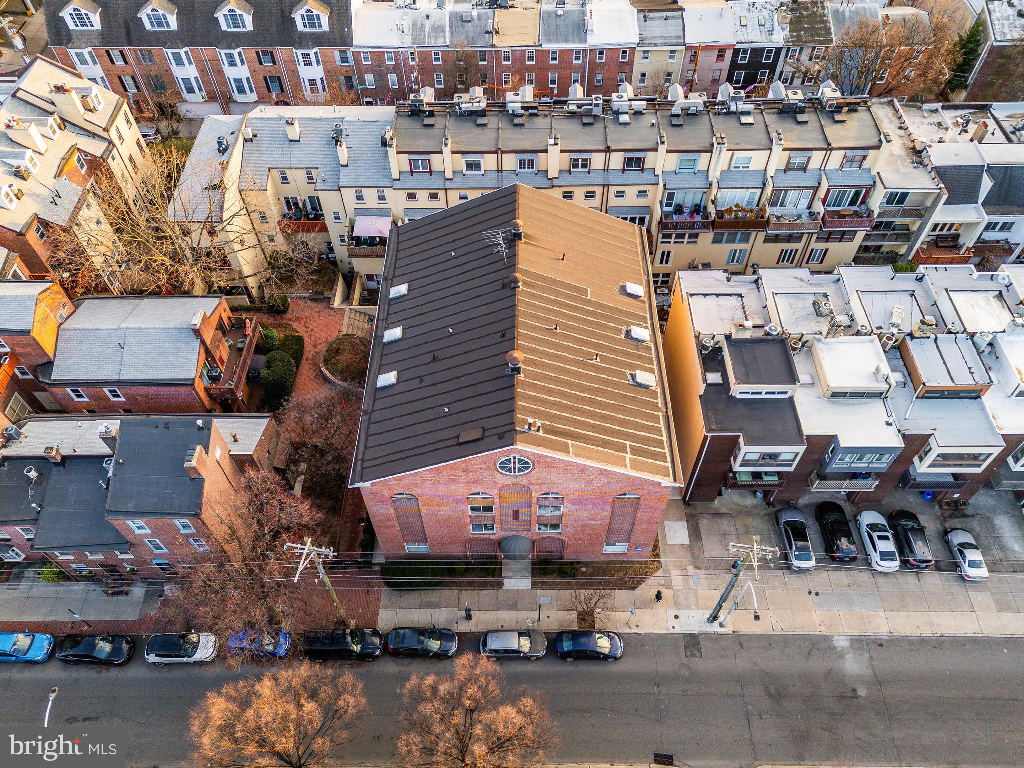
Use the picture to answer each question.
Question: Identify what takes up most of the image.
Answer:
buildings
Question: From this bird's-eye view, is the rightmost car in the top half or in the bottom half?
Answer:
bottom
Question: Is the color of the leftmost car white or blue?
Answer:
blue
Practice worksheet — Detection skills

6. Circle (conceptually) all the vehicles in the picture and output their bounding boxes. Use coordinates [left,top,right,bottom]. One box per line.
[387,628,458,663]
[886,509,935,567]
[50,628,137,663]
[139,627,220,663]
[814,499,858,557]
[854,510,901,568]
[773,510,817,568]
[556,628,624,663]
[297,625,385,664]
[141,127,168,147]
[941,526,990,577]
[0,628,58,663]
[480,627,546,663]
